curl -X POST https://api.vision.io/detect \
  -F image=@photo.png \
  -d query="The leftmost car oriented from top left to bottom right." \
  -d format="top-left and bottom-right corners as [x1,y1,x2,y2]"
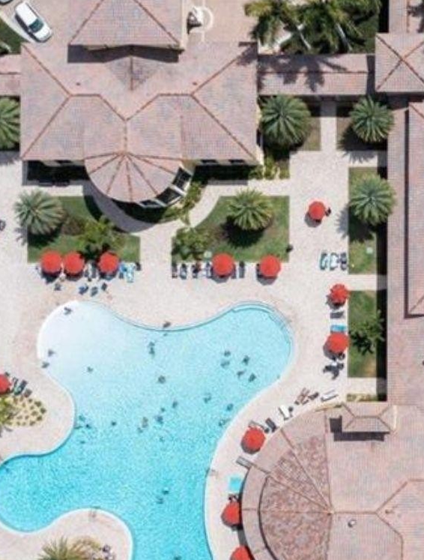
[16,1,53,42]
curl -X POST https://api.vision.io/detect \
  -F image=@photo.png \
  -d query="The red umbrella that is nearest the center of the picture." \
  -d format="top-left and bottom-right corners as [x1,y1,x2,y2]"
[213,251,238,275]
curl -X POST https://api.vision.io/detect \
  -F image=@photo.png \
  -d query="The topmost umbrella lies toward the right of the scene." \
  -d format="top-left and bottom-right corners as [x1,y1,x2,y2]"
[305,199,328,224]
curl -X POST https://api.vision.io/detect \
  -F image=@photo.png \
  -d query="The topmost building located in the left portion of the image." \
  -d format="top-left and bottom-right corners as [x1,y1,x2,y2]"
[15,0,262,206]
